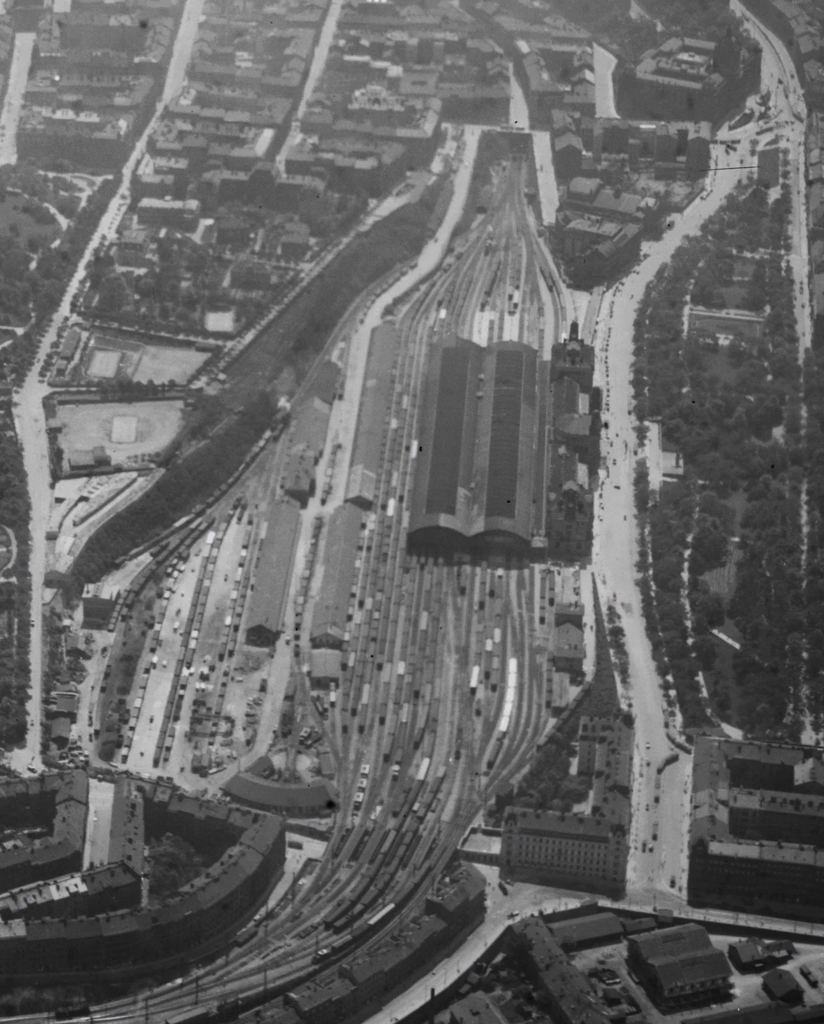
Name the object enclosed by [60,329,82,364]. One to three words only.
shed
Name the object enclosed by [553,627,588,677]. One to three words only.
house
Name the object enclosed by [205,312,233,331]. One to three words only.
sports court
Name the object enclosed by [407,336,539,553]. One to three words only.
building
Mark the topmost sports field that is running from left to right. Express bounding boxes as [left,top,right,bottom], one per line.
[132,346,211,382]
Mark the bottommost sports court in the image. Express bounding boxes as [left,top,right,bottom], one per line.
[111,417,137,442]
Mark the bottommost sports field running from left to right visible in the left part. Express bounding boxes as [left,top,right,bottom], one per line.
[56,401,184,471]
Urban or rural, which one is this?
urban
